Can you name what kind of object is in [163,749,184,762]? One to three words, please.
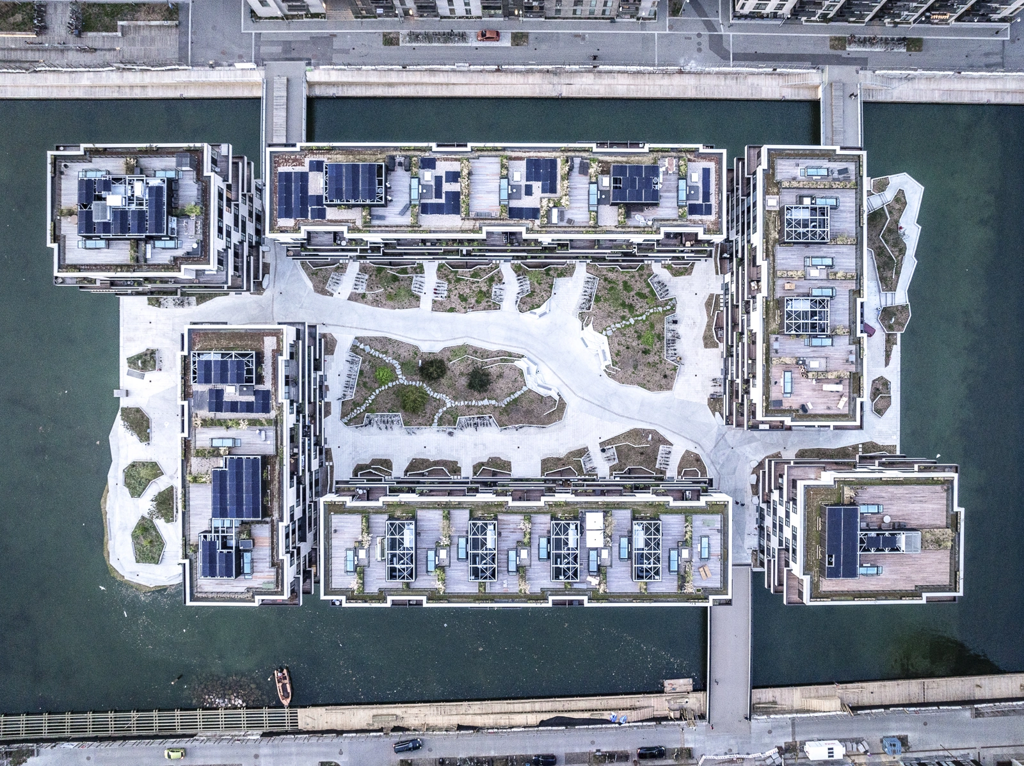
vehicle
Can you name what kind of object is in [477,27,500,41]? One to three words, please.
car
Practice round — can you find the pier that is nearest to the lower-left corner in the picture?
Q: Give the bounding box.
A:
[0,704,298,740]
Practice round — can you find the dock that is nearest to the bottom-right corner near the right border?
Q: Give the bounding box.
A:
[754,671,1024,716]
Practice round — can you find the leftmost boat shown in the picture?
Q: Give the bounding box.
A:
[274,666,291,707]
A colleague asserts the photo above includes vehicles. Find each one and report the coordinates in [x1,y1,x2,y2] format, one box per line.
[163,749,184,762]
[394,740,420,756]
[533,756,556,766]
[477,27,500,41]
[638,748,665,762]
